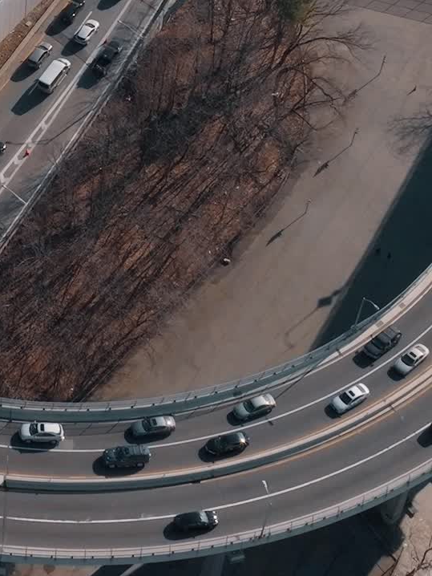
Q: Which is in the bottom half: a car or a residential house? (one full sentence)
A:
There is a car in the bottom half.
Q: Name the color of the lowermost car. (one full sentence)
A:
From above, the lowermost car appears black.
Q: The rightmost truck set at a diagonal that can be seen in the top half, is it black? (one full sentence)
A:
Yes, the rightmost truck set at a diagonal that can be seen in the top half appears black.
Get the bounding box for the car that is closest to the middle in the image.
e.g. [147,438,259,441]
[230,393,278,422]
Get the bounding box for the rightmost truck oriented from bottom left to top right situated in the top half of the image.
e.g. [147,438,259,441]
[89,41,122,77]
